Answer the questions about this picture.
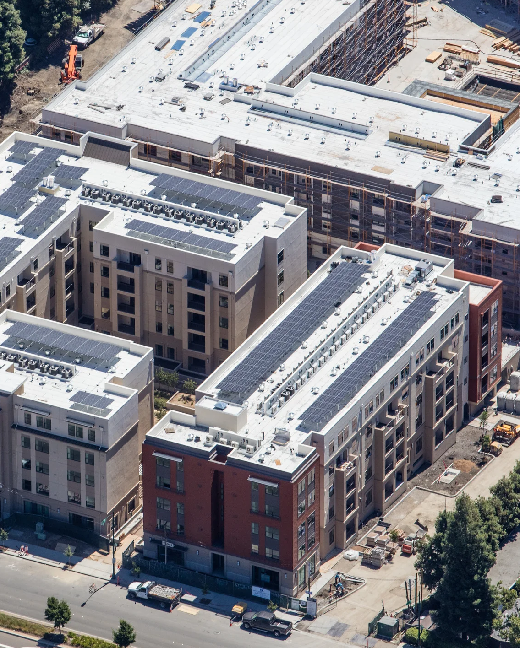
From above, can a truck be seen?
Yes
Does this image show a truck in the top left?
Yes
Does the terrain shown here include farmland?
No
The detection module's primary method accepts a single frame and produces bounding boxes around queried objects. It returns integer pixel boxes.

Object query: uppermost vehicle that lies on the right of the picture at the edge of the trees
[486,440,507,457]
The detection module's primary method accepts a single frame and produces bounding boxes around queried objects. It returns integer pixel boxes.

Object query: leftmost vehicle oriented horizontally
[121,576,183,609]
